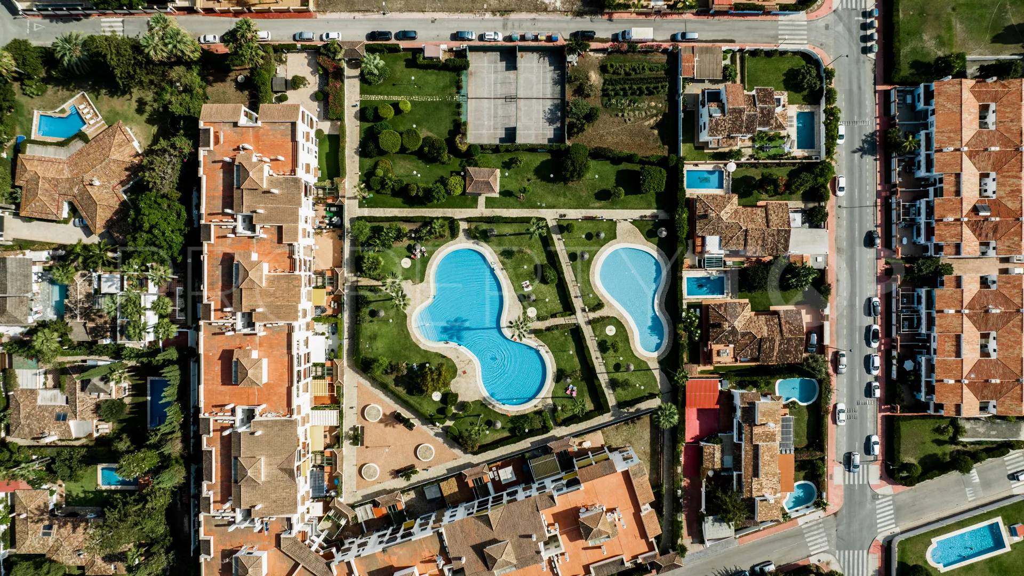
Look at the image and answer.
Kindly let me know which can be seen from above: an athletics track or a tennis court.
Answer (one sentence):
Of the two, only a tennis court appears.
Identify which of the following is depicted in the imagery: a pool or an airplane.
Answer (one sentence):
I can see a pool in this picture.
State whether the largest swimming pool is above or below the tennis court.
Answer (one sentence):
Looking at the photo, you'll find the largest swimming pool below the tennis court.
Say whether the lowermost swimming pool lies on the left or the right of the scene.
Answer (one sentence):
You can find the lowermost swimming pool on the right side of the picture.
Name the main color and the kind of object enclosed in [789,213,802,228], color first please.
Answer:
white gazebo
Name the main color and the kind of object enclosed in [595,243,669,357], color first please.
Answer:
blue swimming pool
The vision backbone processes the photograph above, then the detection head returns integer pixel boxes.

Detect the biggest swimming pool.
[413,244,551,410]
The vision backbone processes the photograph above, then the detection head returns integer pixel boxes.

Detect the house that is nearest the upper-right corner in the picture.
[909,79,1024,257]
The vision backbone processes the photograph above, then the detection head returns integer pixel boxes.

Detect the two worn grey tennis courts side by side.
[469,51,565,144]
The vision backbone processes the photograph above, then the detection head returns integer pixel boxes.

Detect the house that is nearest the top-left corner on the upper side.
[16,120,145,238]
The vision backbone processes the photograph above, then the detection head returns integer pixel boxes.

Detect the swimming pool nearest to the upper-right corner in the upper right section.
[795,110,817,150]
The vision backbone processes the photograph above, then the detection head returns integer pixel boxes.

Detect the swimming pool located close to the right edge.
[925,516,1011,573]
